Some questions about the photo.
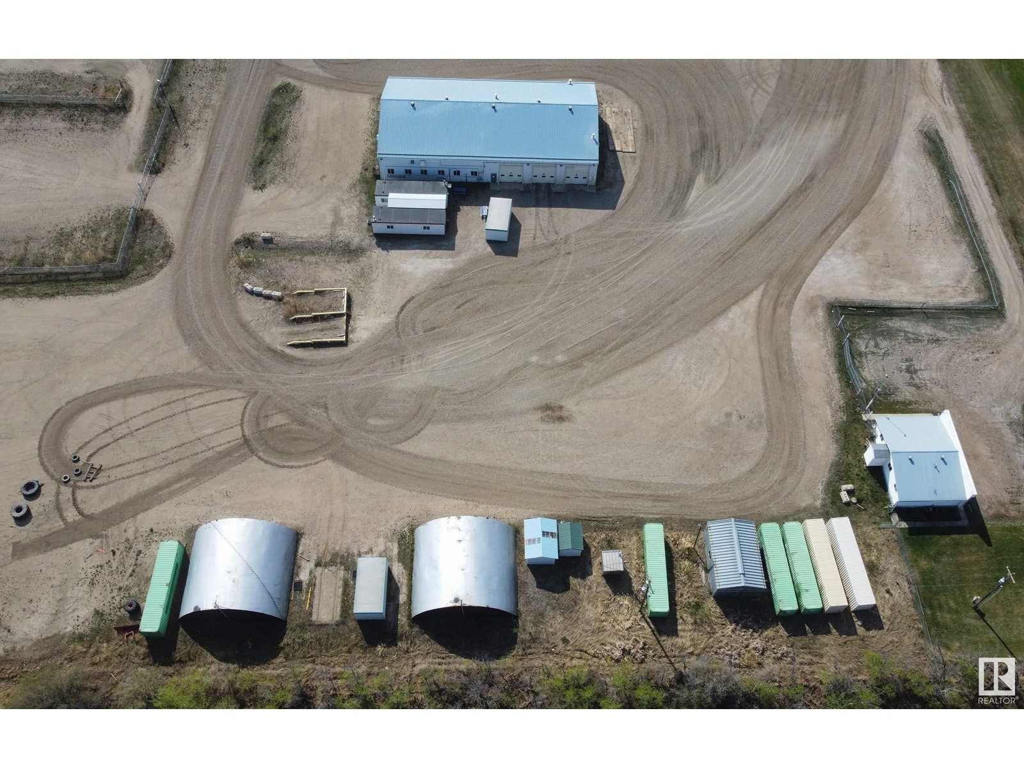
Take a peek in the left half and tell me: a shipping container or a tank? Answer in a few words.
shipping container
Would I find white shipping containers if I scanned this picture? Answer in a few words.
Yes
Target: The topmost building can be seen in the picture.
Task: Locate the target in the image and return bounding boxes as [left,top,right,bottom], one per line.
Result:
[376,76,599,188]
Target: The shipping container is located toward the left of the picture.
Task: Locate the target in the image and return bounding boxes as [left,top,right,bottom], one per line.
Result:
[139,540,183,637]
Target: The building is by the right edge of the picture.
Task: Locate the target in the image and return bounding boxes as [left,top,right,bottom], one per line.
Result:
[855,406,976,512]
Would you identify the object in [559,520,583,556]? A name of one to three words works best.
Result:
shed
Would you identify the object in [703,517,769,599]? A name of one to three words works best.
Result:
shed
